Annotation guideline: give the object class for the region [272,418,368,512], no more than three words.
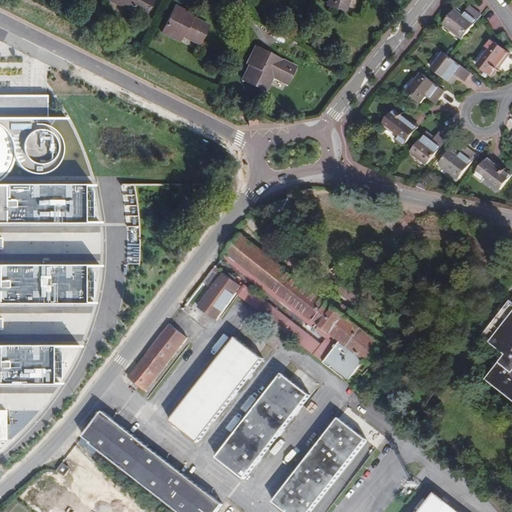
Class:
building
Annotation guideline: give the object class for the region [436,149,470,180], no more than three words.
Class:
house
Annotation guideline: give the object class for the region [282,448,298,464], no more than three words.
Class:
vehicle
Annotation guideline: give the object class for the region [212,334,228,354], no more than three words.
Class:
vehicle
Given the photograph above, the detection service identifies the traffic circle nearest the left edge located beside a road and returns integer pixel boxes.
[212,112,347,202]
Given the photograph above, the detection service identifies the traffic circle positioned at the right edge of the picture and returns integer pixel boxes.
[460,82,512,136]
